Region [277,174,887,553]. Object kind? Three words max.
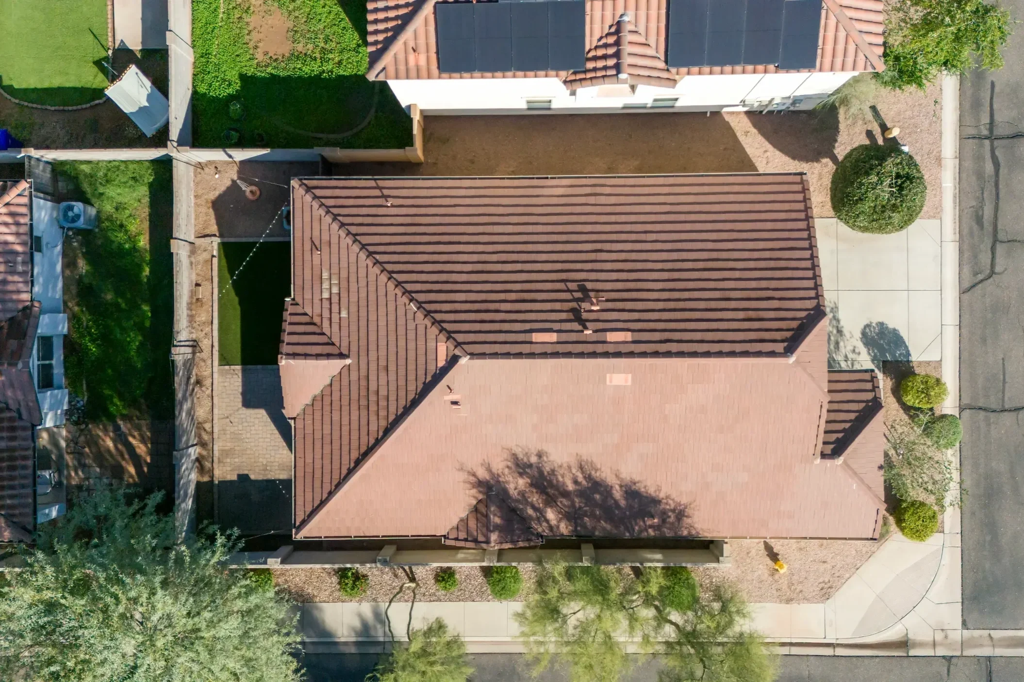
house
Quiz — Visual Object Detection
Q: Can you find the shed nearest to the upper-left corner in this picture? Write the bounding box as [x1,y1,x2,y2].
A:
[100,62,168,138]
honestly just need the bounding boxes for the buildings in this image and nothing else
[100,62,168,138]
[363,0,892,119]
[0,176,68,547]
[277,174,887,553]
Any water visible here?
No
